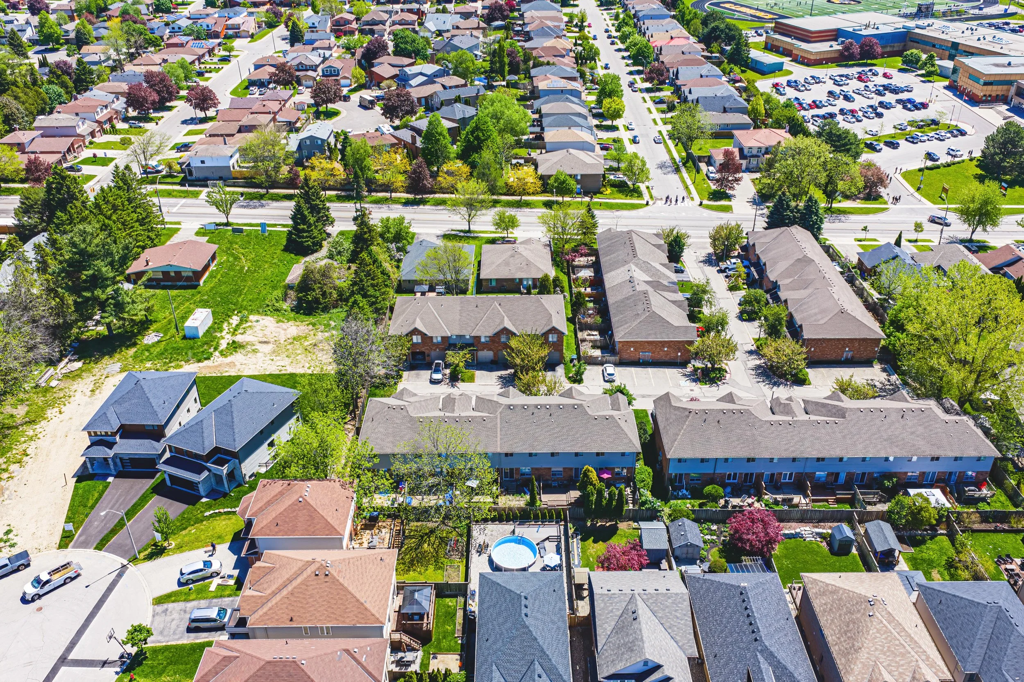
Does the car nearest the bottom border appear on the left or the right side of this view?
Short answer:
left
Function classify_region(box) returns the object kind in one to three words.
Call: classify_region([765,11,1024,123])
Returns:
building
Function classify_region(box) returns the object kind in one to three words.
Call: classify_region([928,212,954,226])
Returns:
car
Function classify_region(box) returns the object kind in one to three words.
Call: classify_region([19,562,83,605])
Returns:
truck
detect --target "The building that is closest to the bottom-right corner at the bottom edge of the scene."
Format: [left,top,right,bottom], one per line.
[913,580,1024,682]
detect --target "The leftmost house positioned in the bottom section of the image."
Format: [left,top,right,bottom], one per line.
[81,371,196,475]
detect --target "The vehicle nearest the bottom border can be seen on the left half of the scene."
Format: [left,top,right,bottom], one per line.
[184,609,227,636]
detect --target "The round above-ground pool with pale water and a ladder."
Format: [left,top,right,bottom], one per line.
[490,528,539,572]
